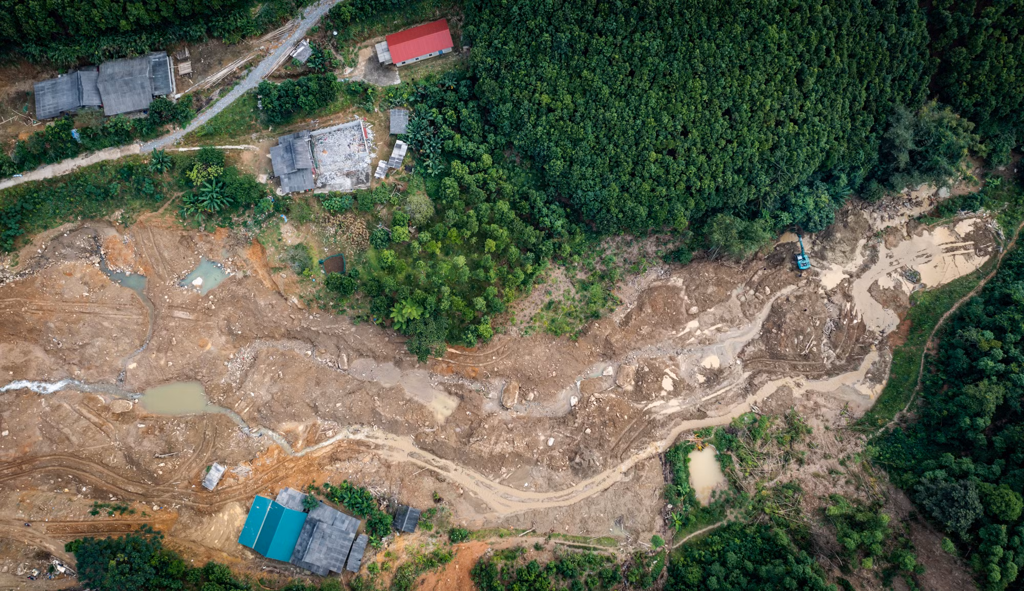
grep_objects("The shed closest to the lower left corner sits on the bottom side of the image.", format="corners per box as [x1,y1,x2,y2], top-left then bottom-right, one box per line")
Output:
[202,462,228,491]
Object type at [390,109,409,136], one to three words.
shed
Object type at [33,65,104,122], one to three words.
house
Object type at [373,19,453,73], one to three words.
house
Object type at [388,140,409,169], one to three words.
shed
